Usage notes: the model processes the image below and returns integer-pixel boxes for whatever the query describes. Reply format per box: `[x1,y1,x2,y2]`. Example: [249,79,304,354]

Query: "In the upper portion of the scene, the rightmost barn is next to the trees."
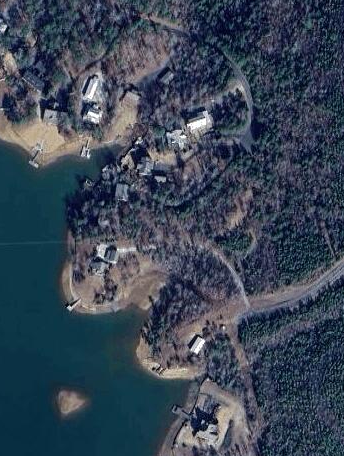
[186,110,212,131]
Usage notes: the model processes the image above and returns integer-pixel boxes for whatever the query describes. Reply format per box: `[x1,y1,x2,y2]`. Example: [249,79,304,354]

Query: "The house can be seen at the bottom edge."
[194,415,221,441]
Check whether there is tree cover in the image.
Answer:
Yes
